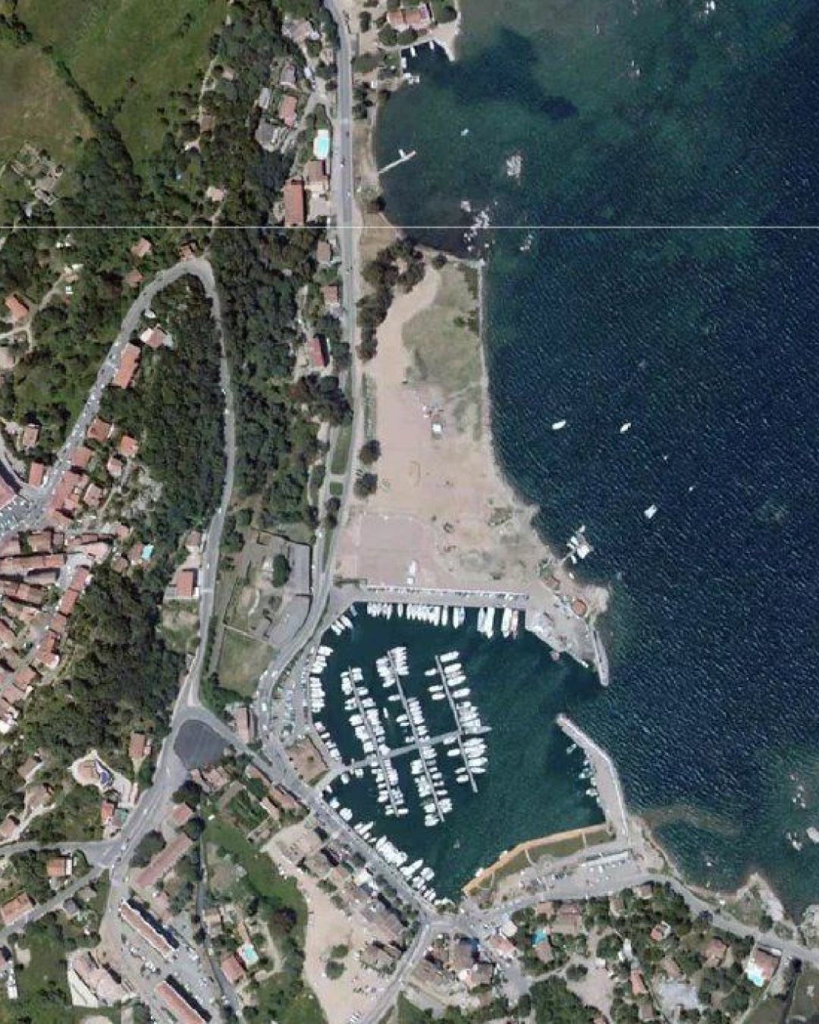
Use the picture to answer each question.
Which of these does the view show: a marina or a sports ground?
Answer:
marina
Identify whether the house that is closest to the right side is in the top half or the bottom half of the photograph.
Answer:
bottom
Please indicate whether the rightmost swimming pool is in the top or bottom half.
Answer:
bottom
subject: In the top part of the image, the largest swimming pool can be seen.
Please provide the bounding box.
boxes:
[314,130,329,159]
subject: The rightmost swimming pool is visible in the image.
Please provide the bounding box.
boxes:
[745,958,765,987]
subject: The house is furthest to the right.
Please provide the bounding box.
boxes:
[753,950,782,977]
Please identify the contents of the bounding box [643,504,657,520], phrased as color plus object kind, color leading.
white boat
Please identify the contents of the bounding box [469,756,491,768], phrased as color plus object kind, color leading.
white boat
